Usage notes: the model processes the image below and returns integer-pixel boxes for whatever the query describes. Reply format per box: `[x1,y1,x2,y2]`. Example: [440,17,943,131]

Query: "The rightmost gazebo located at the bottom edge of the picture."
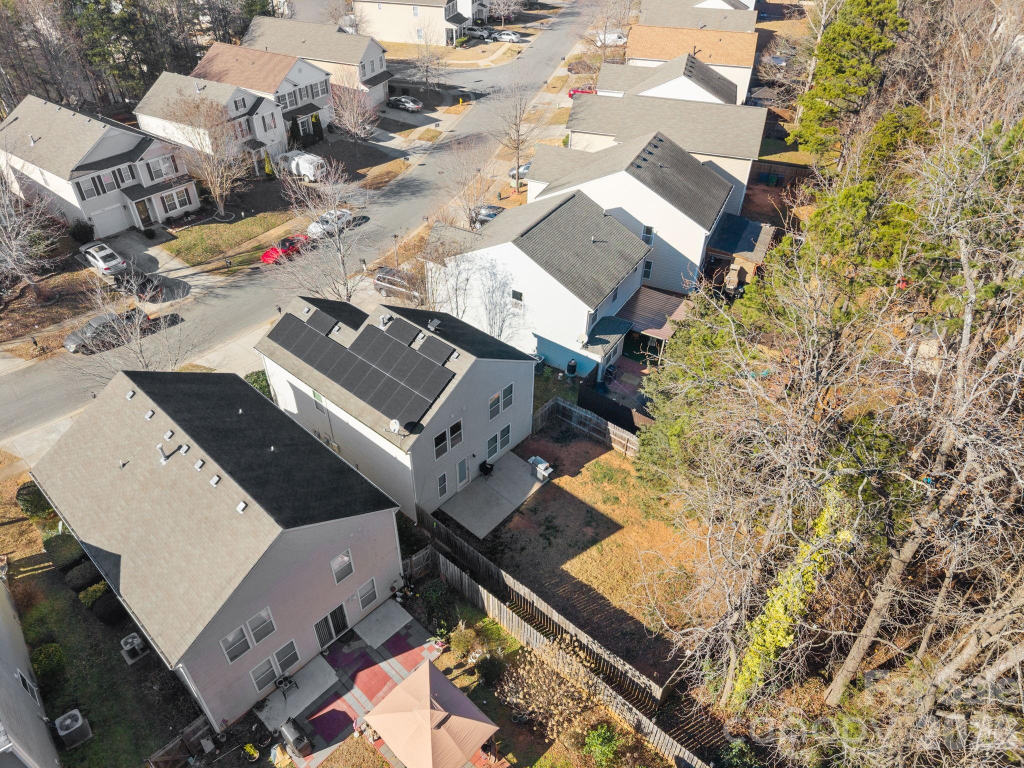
[364,659,500,768]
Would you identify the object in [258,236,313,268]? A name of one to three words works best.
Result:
car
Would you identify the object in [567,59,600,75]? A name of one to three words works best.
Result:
car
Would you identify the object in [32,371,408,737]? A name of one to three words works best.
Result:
house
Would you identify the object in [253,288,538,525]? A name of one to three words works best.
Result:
house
